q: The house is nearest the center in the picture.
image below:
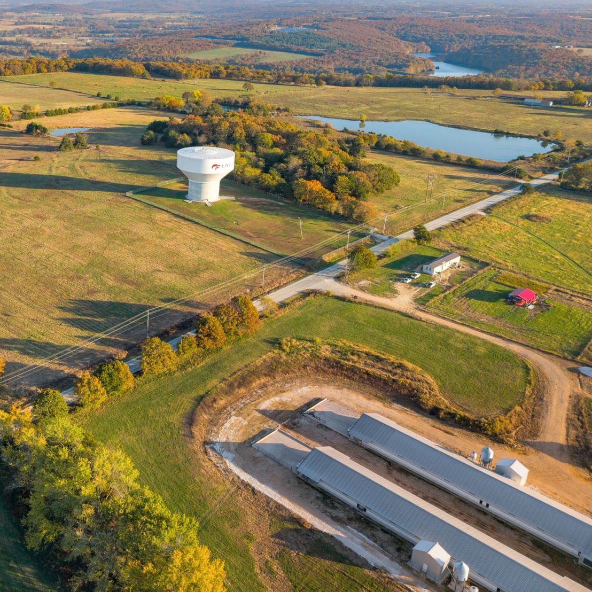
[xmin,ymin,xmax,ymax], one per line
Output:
[422,250,463,274]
